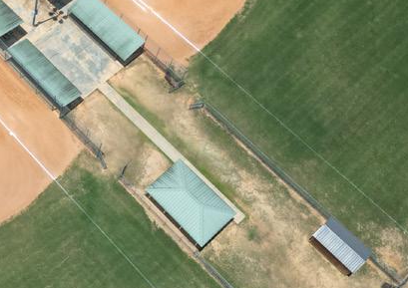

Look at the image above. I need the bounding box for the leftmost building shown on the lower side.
[143,158,237,249]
